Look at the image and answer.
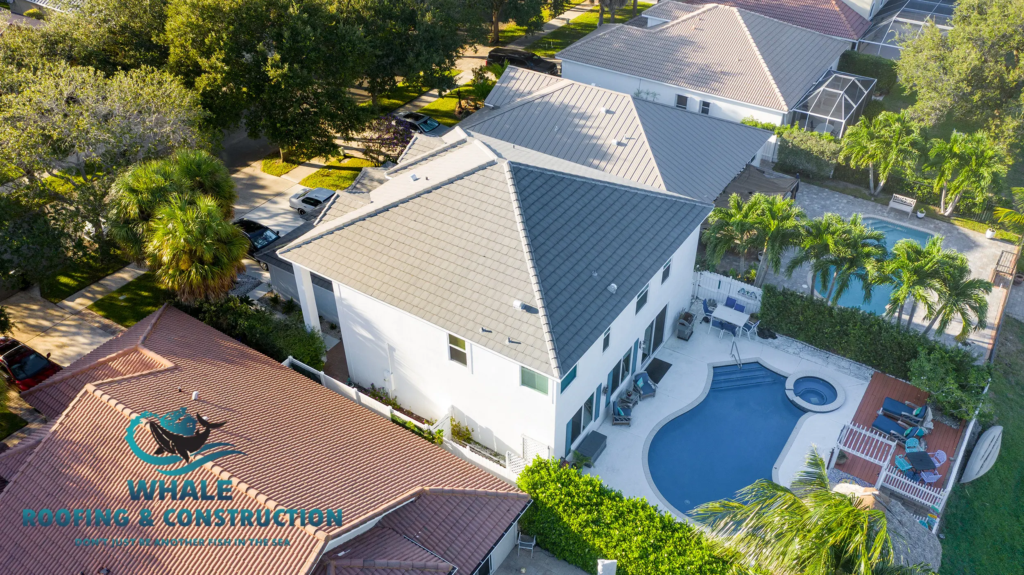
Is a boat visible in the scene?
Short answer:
Yes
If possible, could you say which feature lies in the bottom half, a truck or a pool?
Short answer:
pool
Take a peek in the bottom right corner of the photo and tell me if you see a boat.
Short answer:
Yes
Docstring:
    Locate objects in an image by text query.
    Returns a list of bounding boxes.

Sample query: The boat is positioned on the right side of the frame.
[962,424,1010,485]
